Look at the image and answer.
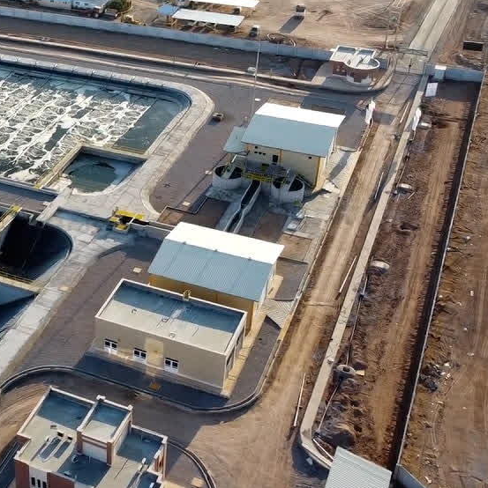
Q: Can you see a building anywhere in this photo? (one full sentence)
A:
Yes, a building can be made out from above.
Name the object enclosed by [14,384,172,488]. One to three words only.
building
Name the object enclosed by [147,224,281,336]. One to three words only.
shed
